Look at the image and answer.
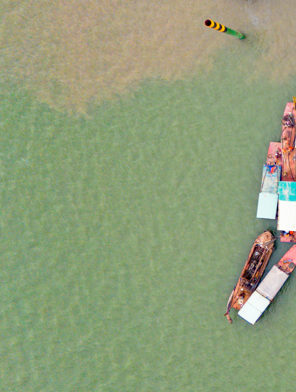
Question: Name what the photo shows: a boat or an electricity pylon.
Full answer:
The image shows a boat.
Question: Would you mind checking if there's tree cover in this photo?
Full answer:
No, no tree cover is visible.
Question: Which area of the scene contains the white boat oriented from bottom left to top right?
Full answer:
The white boat oriented from bottom left to top right appears toward the bottom right of the photo.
